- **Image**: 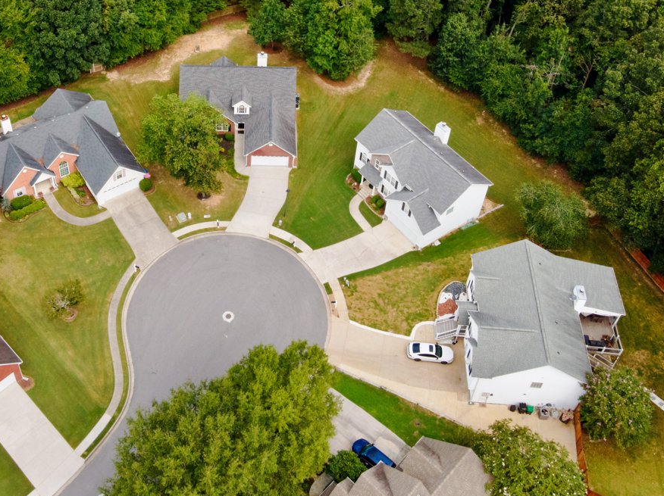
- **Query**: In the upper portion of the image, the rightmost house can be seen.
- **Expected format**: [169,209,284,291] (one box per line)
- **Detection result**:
[347,108,491,252]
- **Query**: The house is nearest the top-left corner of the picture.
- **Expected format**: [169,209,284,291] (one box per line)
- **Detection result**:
[0,85,144,207]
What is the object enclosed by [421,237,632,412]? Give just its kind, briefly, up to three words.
house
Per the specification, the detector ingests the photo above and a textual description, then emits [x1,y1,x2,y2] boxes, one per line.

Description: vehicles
[353,434,391,460]
[407,339,456,362]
